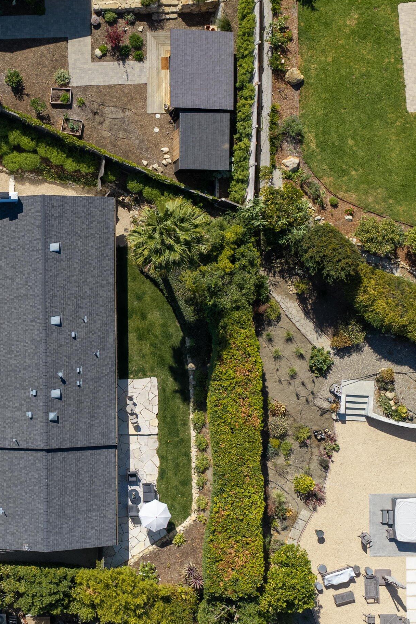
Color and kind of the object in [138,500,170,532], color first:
white umbrella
